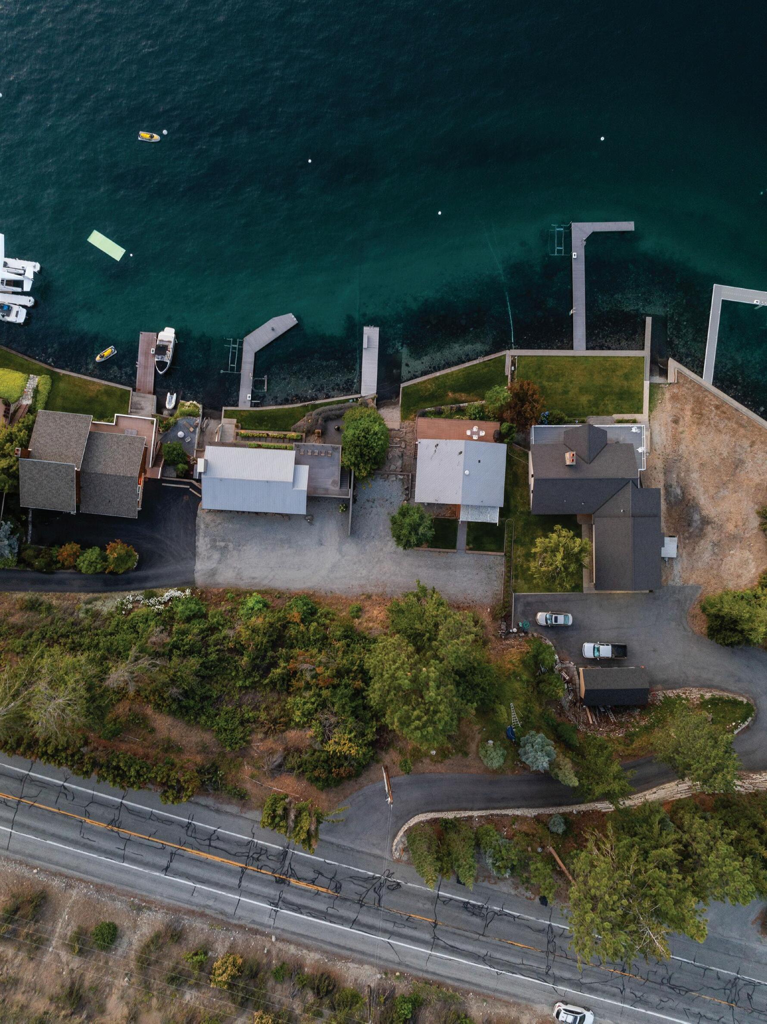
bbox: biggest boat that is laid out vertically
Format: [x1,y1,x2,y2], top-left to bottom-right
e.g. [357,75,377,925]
[155,323,175,372]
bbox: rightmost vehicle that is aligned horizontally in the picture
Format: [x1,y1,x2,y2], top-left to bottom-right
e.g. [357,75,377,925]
[582,642,627,660]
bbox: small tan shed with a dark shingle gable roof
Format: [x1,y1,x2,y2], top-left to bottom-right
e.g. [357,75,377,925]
[580,665,649,705]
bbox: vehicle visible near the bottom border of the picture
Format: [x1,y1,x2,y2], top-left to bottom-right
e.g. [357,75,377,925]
[553,1001,593,1024]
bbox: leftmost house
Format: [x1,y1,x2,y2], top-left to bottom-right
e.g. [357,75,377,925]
[15,410,165,518]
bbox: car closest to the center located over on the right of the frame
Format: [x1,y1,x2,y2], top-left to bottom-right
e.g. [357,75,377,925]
[535,611,572,628]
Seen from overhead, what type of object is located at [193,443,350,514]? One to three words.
house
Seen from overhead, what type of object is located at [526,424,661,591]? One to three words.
house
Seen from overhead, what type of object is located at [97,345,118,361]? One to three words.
boat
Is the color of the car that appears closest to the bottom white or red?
white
